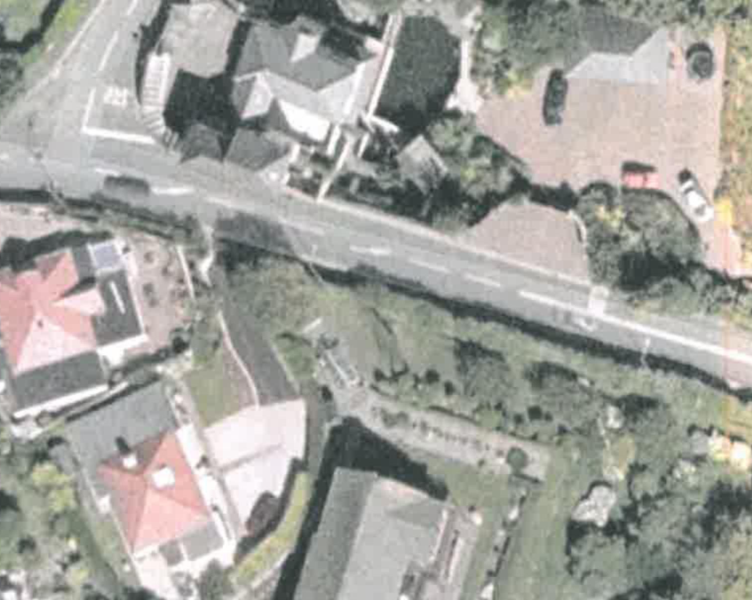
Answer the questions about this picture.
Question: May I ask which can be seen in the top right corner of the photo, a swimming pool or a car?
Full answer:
The one visible in the top right corner of the photo is a car.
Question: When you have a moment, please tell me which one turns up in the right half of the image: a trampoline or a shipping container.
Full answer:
Visible in the right half of the image is a trampoline.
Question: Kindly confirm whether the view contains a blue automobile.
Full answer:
No, no blue automobile is visible in the view.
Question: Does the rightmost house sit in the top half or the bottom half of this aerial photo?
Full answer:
You can find the rightmost house in the top half.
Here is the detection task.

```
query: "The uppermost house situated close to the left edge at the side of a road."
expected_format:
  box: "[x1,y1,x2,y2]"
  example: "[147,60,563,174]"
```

[0,235,146,415]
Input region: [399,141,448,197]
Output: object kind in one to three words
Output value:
shed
